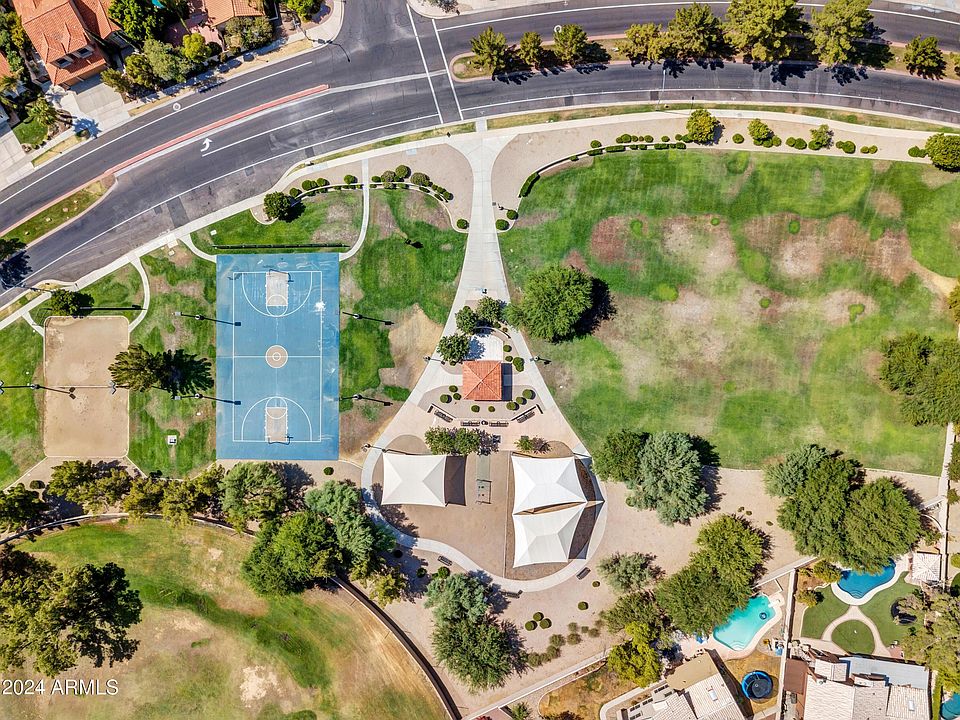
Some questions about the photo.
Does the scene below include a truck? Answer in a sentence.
No, I can see no truck in this picture.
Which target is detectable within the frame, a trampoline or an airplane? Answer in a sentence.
Looking from above, you can make out a trampoline.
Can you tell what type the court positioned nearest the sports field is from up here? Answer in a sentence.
It turns out the court positioned nearest the sports field is a basketball court.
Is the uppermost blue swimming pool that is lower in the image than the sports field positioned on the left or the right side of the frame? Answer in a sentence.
The uppermost blue swimming pool that is lower in the image than the sports field sits on the right side.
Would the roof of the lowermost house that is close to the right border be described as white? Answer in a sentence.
Yes, the roof of the lowermost house that is close to the right border is indeed white.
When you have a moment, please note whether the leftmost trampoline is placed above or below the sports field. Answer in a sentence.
You can see the leftmost trampoline below the sports field in the frame.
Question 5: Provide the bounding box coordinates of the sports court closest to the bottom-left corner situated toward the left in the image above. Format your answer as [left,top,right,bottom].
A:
[43,314,129,458]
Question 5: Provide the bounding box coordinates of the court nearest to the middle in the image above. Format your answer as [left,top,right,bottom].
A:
[216,253,339,460]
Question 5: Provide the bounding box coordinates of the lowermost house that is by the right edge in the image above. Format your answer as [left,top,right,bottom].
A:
[782,648,929,720]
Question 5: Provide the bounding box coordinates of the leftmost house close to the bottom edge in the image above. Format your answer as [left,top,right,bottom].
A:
[623,646,748,720]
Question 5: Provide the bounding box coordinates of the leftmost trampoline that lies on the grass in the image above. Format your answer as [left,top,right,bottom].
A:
[744,672,778,708]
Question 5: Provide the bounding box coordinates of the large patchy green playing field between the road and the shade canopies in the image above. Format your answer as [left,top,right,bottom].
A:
[498,142,960,479]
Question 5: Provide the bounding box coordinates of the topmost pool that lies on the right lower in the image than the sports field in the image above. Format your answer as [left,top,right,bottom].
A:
[832,551,901,605]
